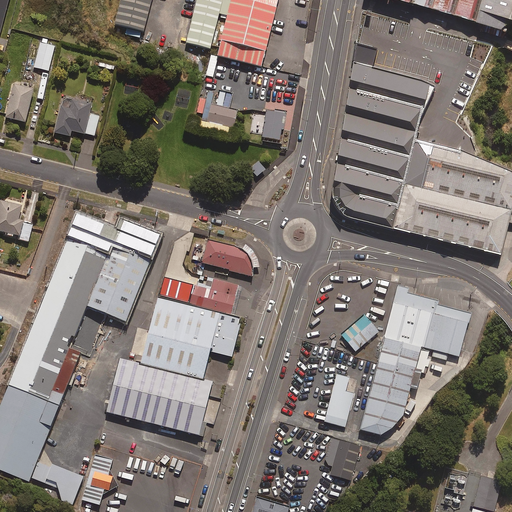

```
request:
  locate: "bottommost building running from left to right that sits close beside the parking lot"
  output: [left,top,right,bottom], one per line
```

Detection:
[394,184,510,255]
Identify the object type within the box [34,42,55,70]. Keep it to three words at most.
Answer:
shed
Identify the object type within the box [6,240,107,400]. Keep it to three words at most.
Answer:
building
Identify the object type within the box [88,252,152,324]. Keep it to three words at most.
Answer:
building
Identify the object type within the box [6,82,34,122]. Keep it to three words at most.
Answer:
house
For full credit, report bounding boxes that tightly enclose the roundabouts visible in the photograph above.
[283,218,316,252]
